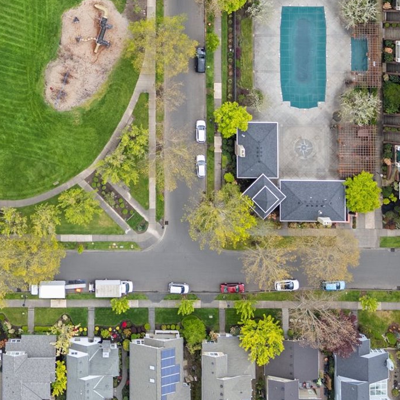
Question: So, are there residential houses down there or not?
Yes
